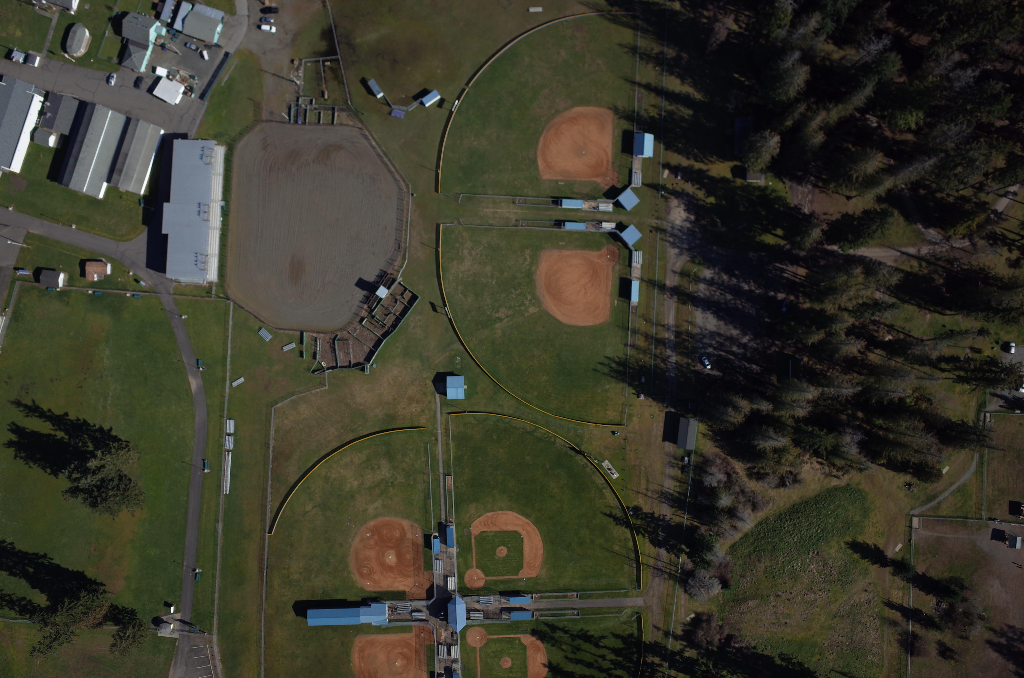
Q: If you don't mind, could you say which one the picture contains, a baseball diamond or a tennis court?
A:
baseball diamond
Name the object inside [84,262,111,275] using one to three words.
house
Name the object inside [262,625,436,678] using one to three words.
baseball field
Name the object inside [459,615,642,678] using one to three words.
baseball field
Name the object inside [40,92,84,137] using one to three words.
barn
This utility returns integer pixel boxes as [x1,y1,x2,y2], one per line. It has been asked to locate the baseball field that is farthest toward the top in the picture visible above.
[440,14,640,201]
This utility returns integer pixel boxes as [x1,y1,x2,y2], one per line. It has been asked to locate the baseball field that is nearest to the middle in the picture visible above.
[441,224,633,425]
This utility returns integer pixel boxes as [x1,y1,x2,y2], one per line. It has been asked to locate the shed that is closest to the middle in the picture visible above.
[447,376,465,399]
